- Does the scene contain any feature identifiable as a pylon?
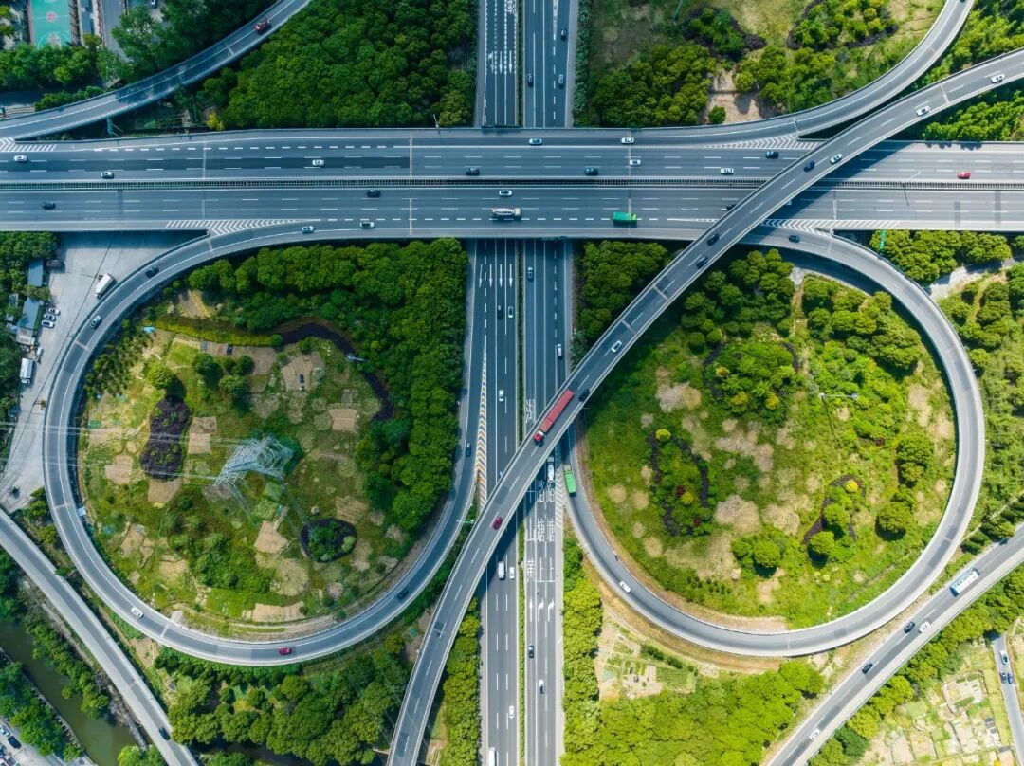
Yes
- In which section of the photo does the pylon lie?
left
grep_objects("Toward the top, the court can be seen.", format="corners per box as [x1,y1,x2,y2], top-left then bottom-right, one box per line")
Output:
[27,0,71,46]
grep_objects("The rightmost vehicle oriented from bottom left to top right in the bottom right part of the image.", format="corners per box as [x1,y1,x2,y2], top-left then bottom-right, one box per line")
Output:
[950,568,981,595]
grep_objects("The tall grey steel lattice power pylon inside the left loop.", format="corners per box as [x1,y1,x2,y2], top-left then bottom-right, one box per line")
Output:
[217,434,297,492]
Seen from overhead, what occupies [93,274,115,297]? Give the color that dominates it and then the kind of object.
white truck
